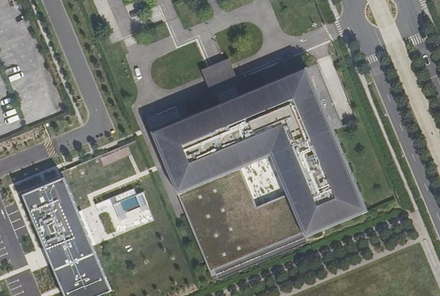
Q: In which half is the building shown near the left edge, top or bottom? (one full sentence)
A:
The building shown near the left edge is in the bottom half of the image.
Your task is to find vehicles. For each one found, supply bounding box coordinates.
[8,0,16,8]
[6,64,20,76]
[4,108,18,118]
[8,72,23,82]
[422,53,430,66]
[14,14,26,22]
[2,102,14,111]
[0,97,12,104]
[6,114,20,124]
[133,64,142,79]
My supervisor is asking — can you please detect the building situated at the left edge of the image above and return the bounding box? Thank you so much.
[21,164,111,296]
